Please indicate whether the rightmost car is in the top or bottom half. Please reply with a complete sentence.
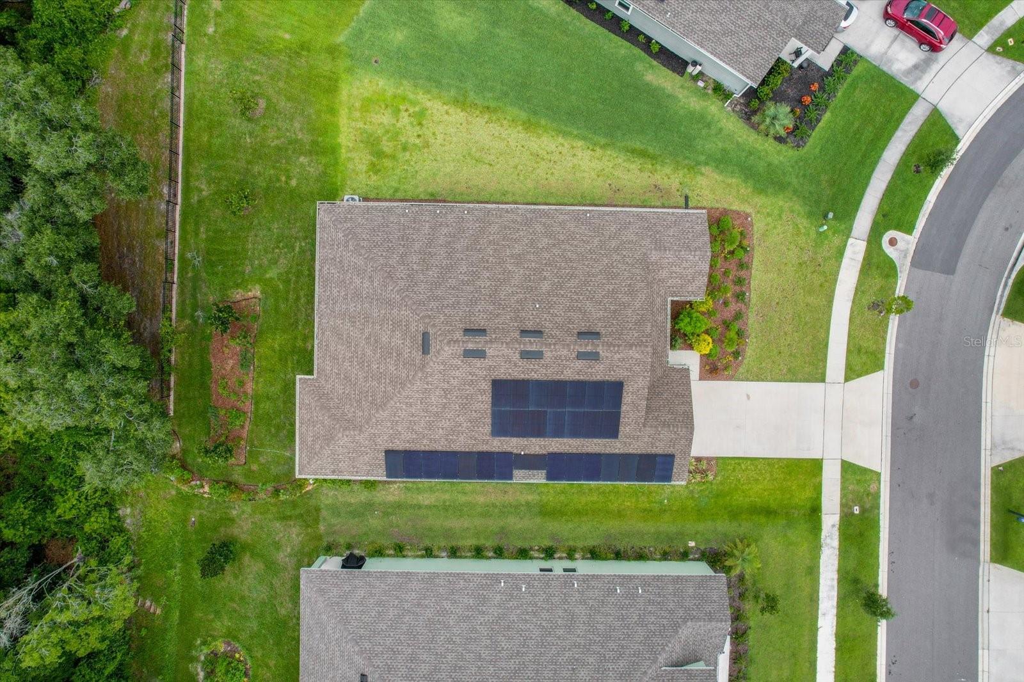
The rightmost car sits in the top half of the picture.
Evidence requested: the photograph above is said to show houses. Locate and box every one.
[299,557,731,682]
[294,202,712,485]
[595,0,847,98]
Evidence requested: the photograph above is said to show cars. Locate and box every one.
[878,0,961,54]
[835,0,863,31]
